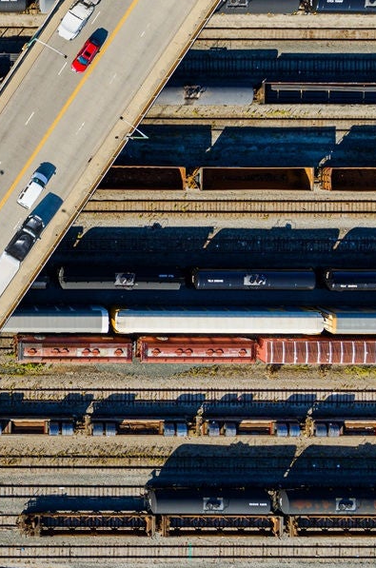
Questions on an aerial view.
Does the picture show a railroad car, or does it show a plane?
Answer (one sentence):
Of the two, only a railroad car appears.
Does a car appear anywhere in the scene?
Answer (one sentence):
Yes, the image includes a car.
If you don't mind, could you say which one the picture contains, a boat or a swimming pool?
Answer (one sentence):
It is a boat that can be seen here.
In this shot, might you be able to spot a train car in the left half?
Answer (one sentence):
Yes, a train car shows up in the left half.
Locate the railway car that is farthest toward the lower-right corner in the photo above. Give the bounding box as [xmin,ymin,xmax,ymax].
[272,485,376,518]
